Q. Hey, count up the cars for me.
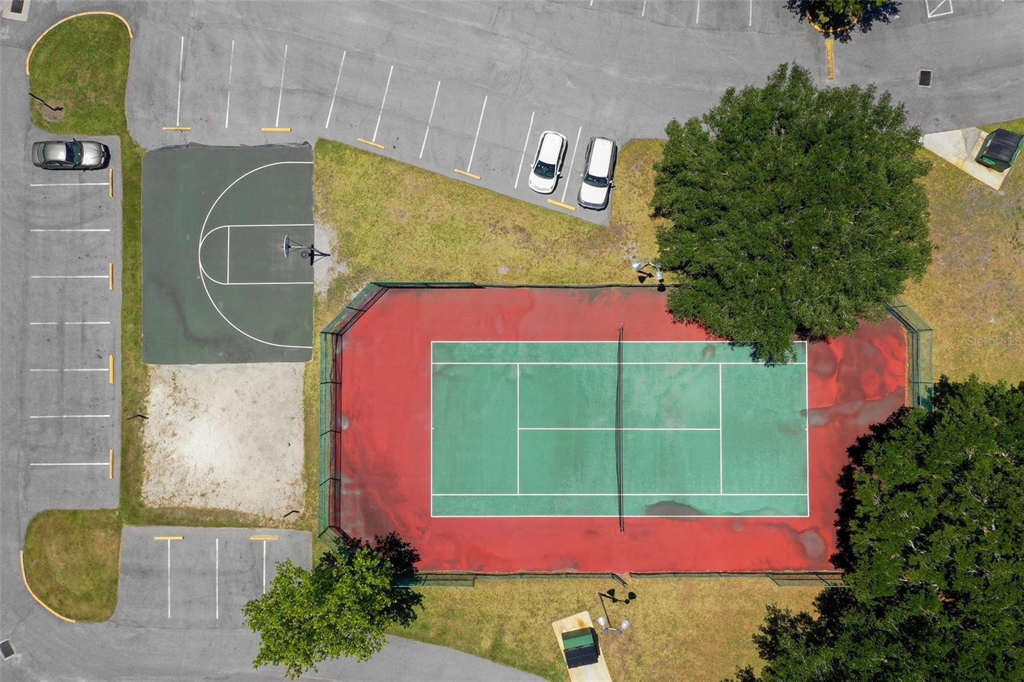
three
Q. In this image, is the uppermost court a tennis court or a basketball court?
basketball court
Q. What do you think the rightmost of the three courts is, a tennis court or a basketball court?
tennis court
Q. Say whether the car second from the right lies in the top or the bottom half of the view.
top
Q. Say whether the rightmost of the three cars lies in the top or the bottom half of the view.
top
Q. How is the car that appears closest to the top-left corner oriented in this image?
from left to right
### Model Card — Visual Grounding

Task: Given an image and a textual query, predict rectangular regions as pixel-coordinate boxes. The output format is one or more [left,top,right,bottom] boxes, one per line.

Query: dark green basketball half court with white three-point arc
[142,144,313,364]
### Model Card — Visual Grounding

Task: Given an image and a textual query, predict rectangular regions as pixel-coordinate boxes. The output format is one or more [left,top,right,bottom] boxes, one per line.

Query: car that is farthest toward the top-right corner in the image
[579,135,618,212]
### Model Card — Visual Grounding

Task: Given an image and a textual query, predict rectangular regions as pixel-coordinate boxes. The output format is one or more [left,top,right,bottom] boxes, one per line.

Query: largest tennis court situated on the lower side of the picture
[332,287,906,573]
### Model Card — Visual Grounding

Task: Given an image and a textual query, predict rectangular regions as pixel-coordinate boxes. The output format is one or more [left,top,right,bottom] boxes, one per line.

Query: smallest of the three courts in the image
[141,362,306,518]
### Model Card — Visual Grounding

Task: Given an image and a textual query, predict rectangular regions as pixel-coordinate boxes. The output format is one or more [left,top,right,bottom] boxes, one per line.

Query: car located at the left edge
[32,137,109,171]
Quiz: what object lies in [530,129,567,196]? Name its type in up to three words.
car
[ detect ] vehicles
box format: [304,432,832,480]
[32,137,109,171]
[530,129,567,196]
[579,135,618,212]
